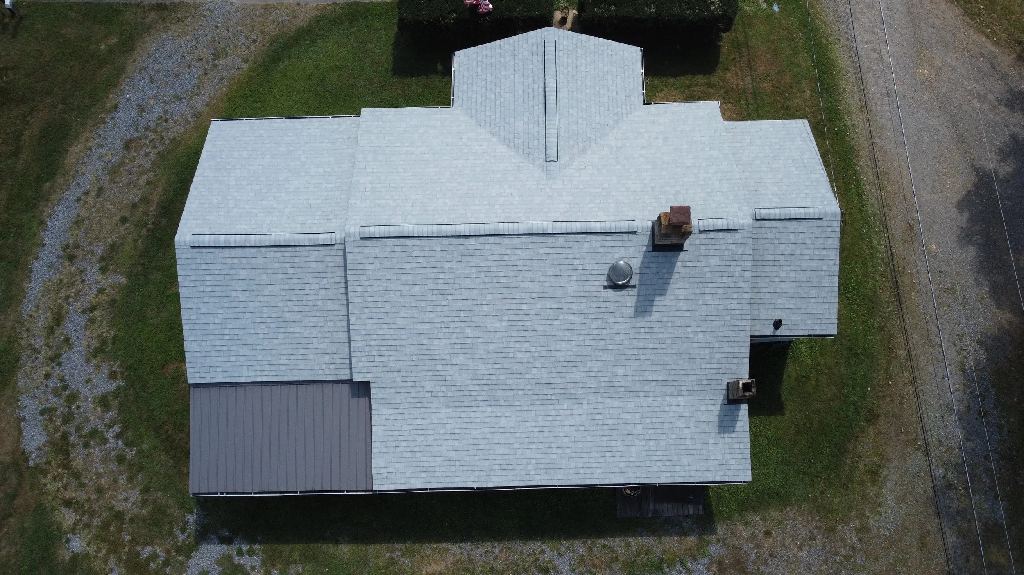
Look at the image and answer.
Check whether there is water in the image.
No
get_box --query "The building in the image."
[175,27,851,499]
